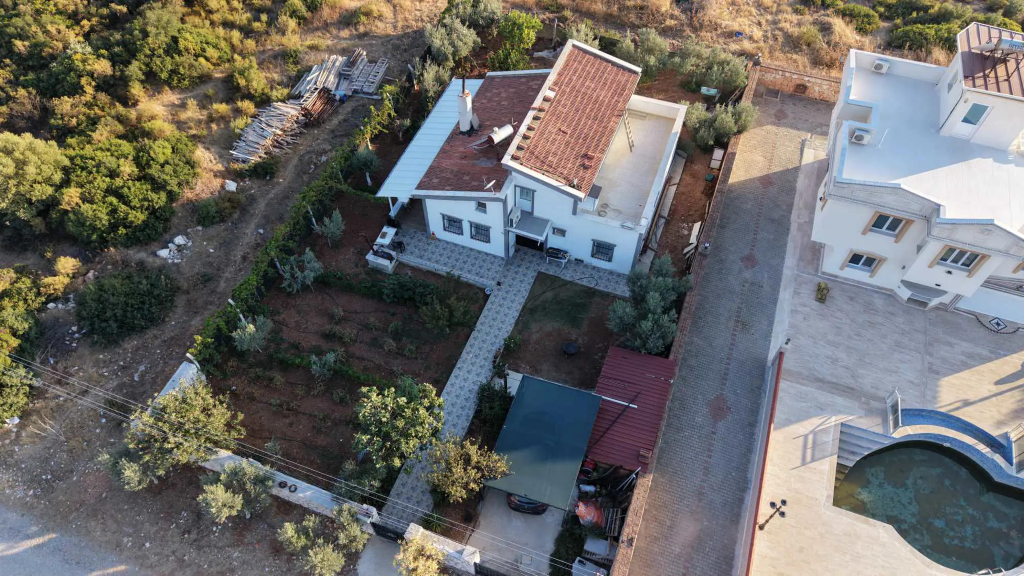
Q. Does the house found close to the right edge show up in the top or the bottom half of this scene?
top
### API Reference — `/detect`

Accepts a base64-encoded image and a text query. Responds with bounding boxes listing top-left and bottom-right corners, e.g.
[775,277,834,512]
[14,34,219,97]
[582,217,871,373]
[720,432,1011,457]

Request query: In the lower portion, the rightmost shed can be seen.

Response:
[584,347,676,481]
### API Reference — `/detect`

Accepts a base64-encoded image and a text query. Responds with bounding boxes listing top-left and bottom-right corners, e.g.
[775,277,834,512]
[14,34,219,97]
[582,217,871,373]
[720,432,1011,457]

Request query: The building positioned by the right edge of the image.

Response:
[808,23,1024,322]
